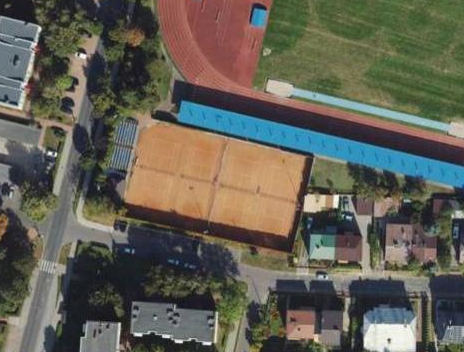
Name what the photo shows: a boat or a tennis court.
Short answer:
tennis court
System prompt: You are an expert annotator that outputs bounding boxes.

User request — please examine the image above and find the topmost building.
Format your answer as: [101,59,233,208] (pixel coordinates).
[0,15,43,108]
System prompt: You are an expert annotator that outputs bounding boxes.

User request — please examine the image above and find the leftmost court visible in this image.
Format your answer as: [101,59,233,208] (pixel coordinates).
[124,122,188,224]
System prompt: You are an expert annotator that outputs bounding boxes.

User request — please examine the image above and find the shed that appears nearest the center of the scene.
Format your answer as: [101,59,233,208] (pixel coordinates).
[304,195,340,212]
